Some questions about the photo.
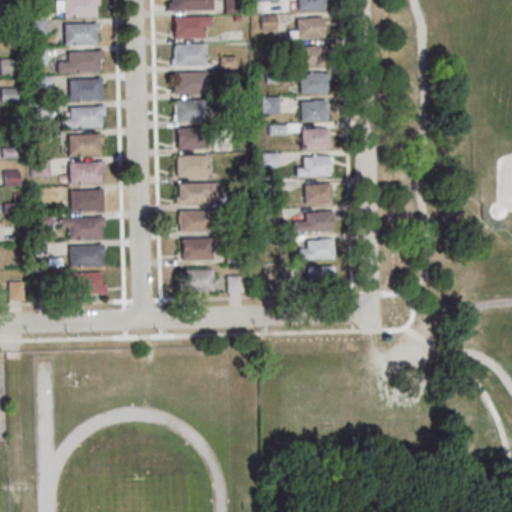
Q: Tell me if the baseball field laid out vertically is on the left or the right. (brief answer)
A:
right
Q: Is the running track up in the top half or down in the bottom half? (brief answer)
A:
bottom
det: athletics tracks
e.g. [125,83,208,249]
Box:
[38,361,228,512]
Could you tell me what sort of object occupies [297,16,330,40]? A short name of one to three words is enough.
house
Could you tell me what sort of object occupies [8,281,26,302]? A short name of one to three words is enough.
building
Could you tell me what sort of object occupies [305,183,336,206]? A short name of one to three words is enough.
house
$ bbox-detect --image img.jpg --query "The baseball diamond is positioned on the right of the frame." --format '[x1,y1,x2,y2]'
[489,152,512,220]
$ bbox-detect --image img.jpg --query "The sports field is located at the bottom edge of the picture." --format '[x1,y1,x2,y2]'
[56,422,214,512]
